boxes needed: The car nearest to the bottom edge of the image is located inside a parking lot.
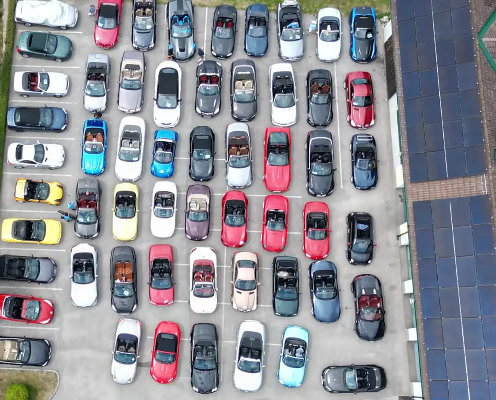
[321,361,387,397]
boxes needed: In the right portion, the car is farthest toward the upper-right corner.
[348,6,381,64]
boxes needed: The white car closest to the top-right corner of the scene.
[313,6,347,64]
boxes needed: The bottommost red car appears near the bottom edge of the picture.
[149,320,183,384]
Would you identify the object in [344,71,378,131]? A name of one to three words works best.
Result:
car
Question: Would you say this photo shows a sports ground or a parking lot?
parking lot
